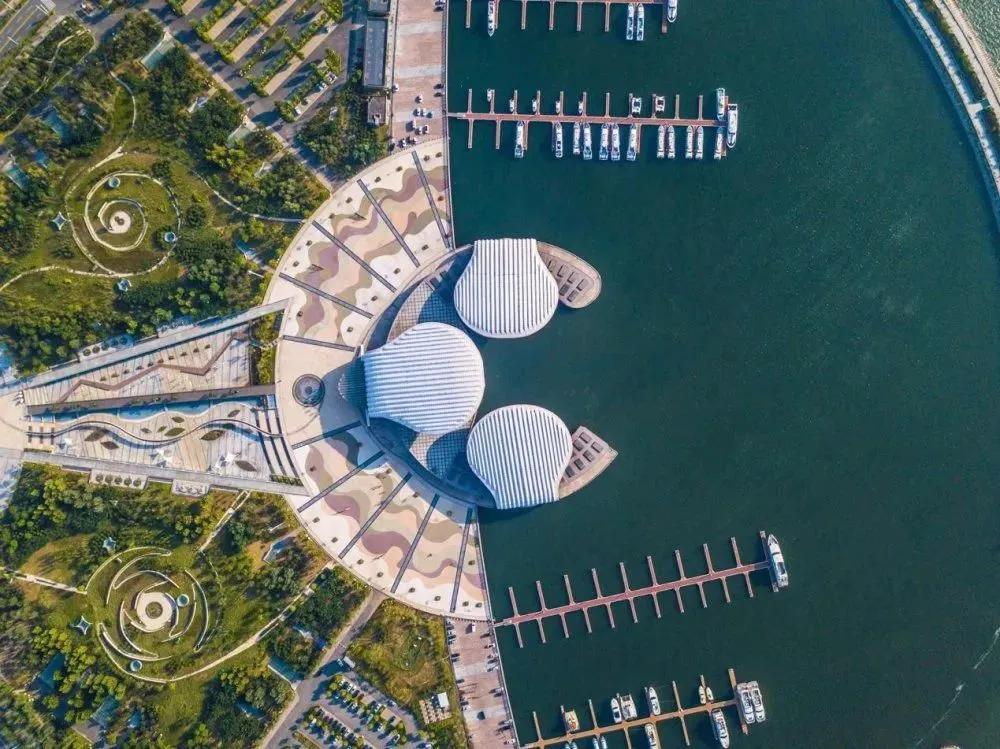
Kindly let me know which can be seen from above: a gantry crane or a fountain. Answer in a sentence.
Looking from above, you can make out a fountain.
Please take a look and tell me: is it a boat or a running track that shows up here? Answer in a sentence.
The one in the frame is a boat.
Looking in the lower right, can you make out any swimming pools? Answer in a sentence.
No, there is no swimming pool in the lower right.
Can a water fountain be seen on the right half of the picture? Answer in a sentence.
No, no water fountain can be made out on the right half of the picture.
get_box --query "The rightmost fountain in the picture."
[293,373,325,405]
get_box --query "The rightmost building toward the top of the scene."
[454,238,559,338]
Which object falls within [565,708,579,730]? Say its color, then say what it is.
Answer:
white boat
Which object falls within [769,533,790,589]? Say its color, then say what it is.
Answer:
white boat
